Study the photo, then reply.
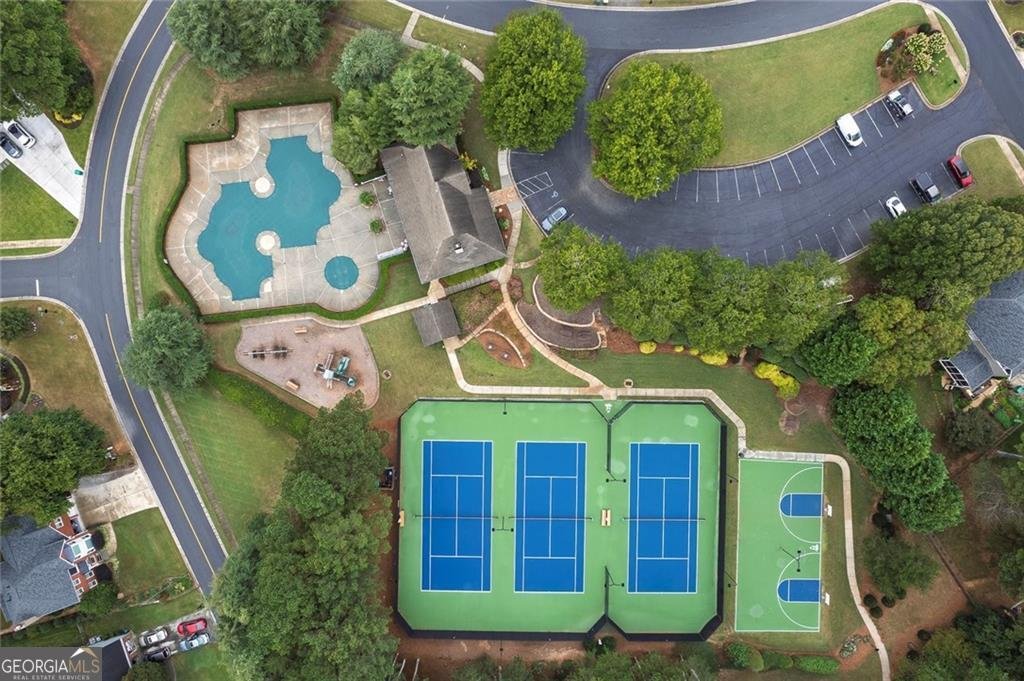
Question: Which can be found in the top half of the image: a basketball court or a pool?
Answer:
pool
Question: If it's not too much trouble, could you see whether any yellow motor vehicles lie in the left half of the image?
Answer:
No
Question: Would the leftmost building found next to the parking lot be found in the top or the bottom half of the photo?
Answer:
top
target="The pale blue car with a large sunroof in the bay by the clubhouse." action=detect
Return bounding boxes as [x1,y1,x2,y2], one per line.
[540,204,571,232]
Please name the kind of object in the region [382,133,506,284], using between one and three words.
building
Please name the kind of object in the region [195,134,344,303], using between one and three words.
swimming pool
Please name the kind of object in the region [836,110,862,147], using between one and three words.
vehicle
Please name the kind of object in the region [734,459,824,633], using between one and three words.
basketball court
